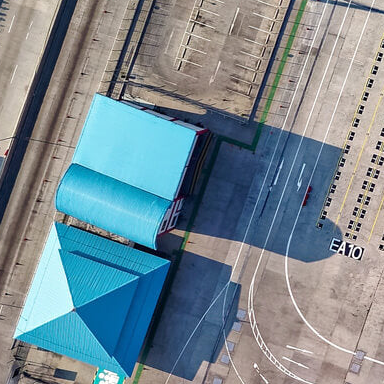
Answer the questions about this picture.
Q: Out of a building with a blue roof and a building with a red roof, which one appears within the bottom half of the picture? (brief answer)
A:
building with a blue roof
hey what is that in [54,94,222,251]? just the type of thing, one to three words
building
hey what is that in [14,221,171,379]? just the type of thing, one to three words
building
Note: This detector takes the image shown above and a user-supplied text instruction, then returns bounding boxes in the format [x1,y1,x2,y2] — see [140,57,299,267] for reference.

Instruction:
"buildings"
[14,221,171,379]
[54,94,222,251]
